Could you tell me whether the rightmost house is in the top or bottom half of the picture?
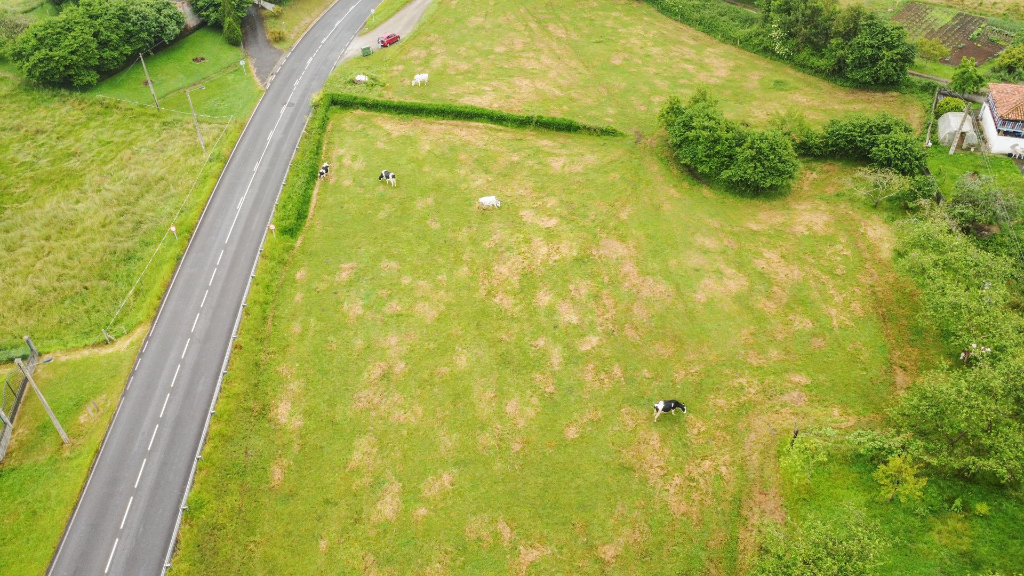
top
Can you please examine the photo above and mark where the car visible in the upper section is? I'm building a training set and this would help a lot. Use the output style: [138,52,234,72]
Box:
[375,32,400,47]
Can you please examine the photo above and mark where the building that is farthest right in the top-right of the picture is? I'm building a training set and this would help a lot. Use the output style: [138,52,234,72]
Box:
[976,81,1024,158]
